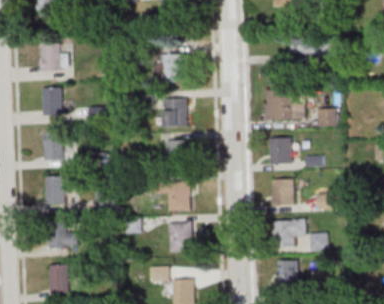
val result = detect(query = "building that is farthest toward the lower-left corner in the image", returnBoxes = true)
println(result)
[48,266,68,293]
